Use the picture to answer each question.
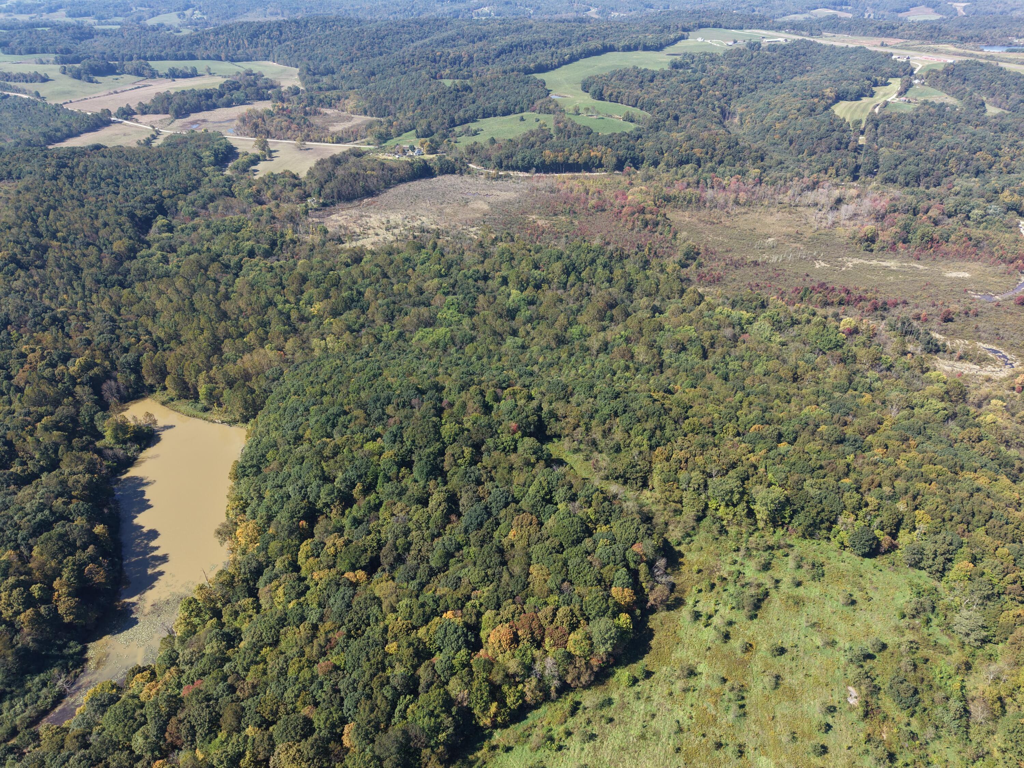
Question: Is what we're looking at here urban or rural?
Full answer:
The area shown here is rural.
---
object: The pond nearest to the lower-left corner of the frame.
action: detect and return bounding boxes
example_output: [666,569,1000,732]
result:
[0,399,246,768]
